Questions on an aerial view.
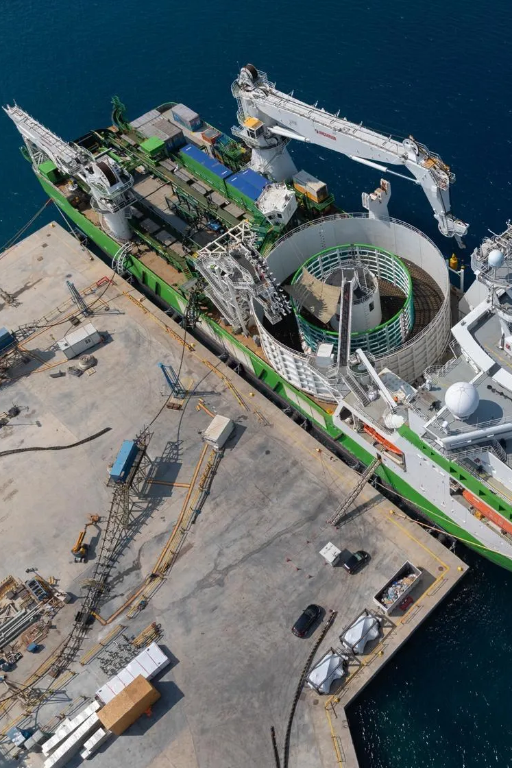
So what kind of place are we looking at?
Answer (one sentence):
It's a port.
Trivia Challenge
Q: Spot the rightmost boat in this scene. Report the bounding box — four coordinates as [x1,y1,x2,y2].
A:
[464,489,512,540]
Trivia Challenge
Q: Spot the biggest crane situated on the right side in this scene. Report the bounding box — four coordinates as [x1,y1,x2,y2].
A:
[214,61,465,253]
